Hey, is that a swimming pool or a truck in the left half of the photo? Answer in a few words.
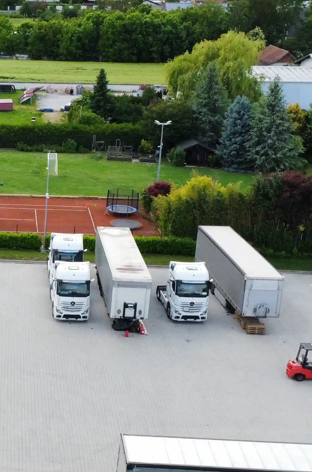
truck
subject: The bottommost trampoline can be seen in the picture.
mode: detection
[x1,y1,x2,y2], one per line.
[110,215,143,232]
